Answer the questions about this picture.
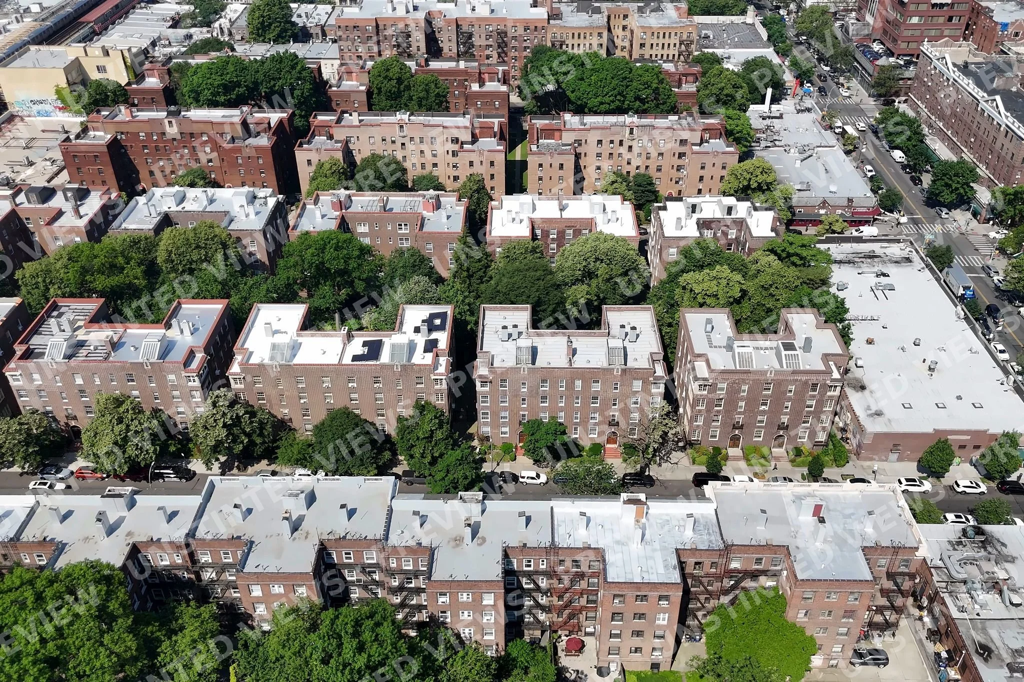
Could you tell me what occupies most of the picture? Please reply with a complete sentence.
Most of the picture is covered by buildings.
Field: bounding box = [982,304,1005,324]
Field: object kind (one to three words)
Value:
car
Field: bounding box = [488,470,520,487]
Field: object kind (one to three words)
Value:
car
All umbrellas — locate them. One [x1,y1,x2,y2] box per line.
[562,633,587,658]
[595,662,615,682]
